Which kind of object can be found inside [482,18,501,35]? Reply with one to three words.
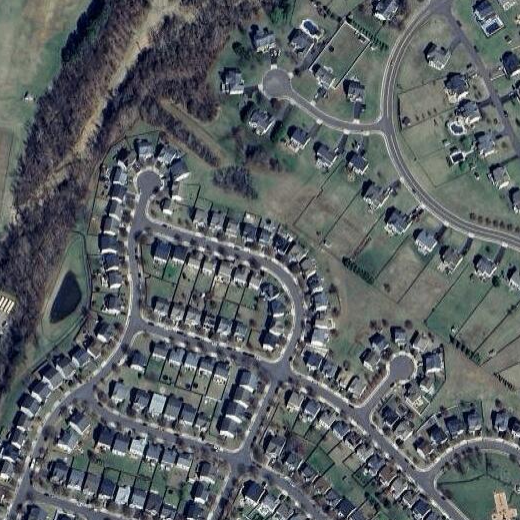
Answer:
swimming pool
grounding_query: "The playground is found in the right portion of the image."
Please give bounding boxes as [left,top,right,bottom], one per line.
[493,493,517,520]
